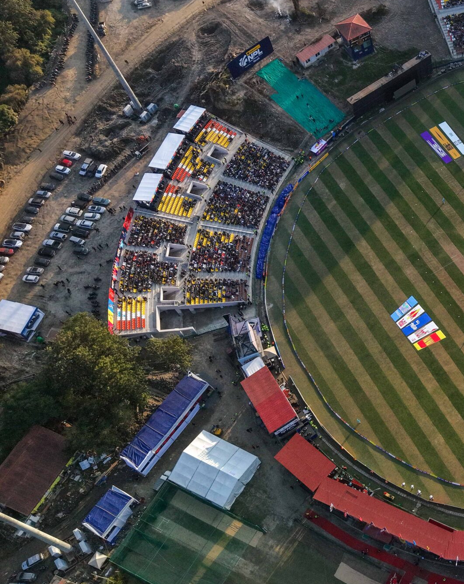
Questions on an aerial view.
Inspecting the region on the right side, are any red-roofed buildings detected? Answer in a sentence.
Yes, looking on the right side, one can make out a red-roofed building.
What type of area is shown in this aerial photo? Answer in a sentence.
What you see here is a sports ground.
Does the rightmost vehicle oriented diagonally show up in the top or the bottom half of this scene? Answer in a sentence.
The bottom half of the photo is where the rightmost vehicle oriented diagonally is.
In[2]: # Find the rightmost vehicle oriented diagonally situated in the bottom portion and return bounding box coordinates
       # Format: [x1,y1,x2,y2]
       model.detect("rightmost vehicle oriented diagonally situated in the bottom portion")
[152,465,172,488]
